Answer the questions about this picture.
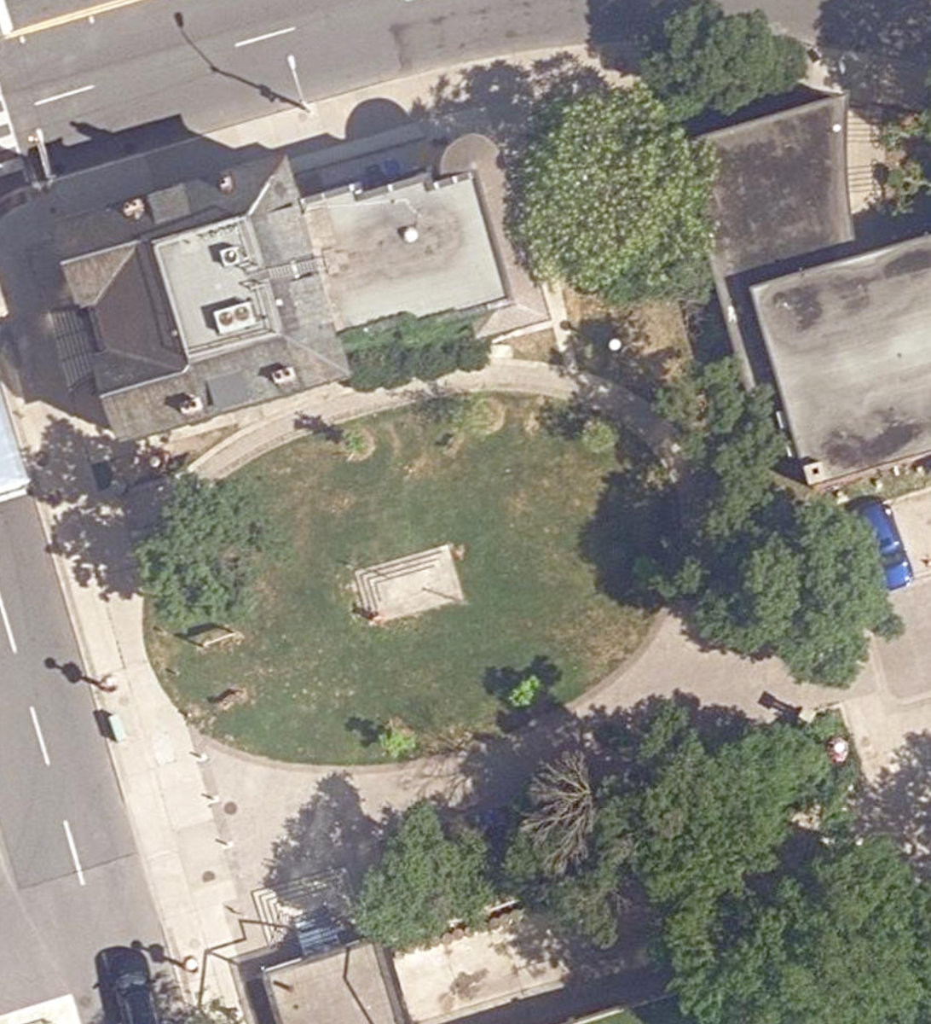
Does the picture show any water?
No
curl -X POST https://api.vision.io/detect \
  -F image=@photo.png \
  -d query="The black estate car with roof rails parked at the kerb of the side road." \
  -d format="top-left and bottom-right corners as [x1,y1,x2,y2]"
[105,938,164,1024]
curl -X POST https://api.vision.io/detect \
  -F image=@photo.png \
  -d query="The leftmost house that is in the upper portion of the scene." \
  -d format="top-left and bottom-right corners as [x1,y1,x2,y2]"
[51,155,351,442]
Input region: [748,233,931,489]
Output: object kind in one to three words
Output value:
building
